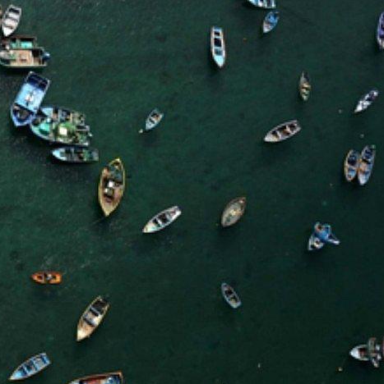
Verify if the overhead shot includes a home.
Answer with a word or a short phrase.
No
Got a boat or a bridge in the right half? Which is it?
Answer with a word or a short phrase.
boat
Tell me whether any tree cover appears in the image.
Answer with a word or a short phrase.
No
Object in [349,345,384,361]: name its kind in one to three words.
boat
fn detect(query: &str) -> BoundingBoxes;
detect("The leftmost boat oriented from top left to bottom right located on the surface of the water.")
[221,283,241,310]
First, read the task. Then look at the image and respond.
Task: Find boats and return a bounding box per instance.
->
[32,270,61,284]
[142,205,183,231]
[144,108,163,131]
[375,10,384,49]
[297,71,312,101]
[222,195,248,228]
[263,118,302,140]
[221,283,241,310]
[262,8,280,33]
[210,26,226,67]
[2,3,22,35]
[99,158,126,217]
[52,146,99,161]
[323,233,342,244]
[1,33,38,50]
[368,337,377,366]
[357,145,375,185]
[30,116,95,149]
[72,374,124,384]
[248,0,276,8]
[41,103,87,123]
[9,353,49,382]
[306,219,332,251]
[78,297,110,343]
[10,69,50,129]
[342,149,359,182]
[349,345,384,361]
[0,45,50,68]
[353,88,377,113]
